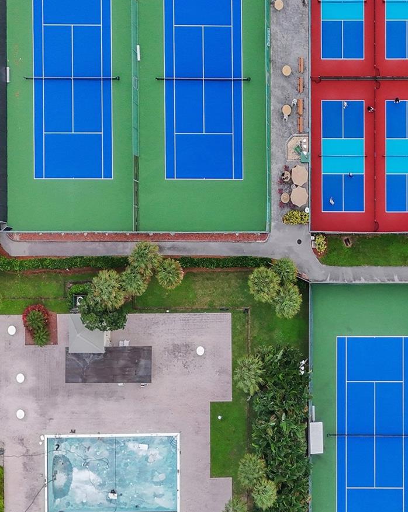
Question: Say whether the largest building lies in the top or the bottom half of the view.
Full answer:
The bottom half of the photo is where the largest building is.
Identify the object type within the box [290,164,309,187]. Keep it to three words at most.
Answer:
umbrella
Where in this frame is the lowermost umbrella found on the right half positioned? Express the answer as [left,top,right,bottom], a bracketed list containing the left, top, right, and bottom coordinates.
[289,185,309,209]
